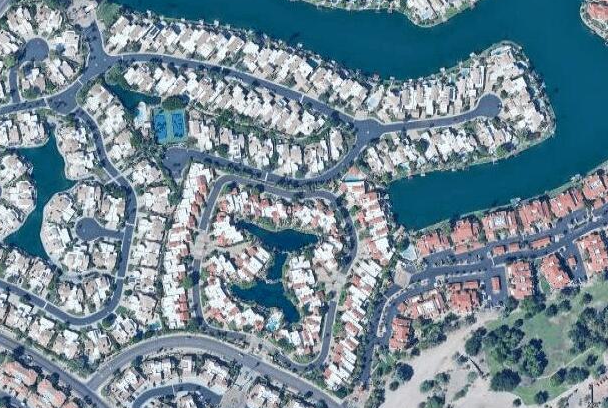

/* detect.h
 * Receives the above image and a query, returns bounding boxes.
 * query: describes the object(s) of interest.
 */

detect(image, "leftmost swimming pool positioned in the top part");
[133,102,146,129]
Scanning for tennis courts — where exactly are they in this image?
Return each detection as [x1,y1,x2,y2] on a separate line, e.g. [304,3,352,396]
[170,108,185,143]
[154,108,170,143]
